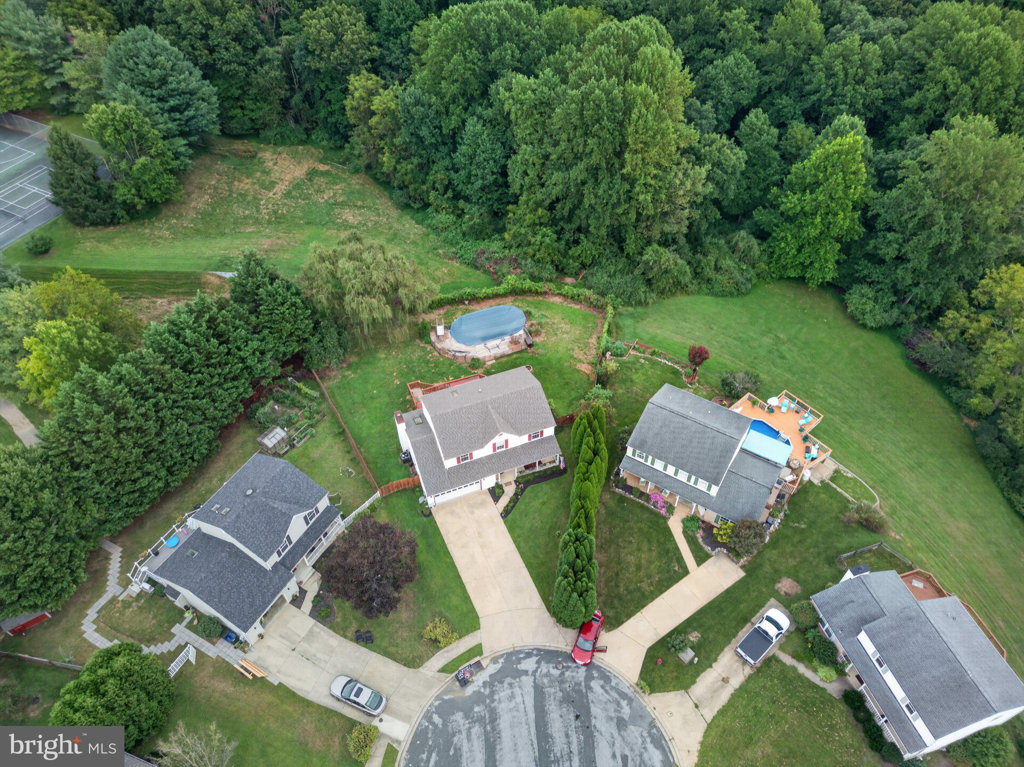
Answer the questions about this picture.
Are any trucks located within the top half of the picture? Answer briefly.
No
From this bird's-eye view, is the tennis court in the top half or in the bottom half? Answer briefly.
top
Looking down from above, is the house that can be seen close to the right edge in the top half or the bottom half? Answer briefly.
bottom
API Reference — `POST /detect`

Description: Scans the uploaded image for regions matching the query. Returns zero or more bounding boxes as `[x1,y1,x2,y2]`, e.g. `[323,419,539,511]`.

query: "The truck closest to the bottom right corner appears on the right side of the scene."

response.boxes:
[732,608,790,668]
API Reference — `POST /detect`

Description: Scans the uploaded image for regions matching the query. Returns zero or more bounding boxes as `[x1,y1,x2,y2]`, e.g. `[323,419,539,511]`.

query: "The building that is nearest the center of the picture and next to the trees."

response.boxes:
[392,366,563,509]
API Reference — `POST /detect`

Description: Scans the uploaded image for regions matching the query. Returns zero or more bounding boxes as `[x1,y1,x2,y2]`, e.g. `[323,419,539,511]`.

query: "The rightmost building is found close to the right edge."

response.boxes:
[812,559,1024,763]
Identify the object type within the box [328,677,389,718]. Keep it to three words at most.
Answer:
car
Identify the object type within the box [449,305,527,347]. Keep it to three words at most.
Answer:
swimming pool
